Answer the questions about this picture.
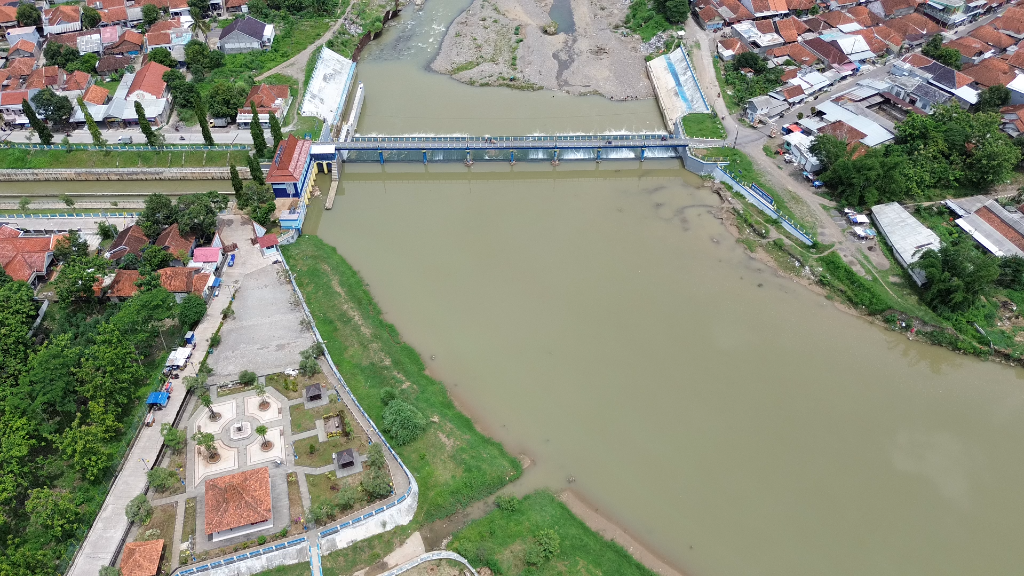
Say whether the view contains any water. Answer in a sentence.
Yes, some water is visible.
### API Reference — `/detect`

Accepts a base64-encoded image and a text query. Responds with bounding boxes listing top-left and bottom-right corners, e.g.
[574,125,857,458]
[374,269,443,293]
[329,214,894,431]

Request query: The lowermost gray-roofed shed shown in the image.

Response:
[334,446,357,474]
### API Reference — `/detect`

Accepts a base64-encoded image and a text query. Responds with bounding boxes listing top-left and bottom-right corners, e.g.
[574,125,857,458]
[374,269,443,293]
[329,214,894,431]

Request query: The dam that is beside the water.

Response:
[339,133,680,161]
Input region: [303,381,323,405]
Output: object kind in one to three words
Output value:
shed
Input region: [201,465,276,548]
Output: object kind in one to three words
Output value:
building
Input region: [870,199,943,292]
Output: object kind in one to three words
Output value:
building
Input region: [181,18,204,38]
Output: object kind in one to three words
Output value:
house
